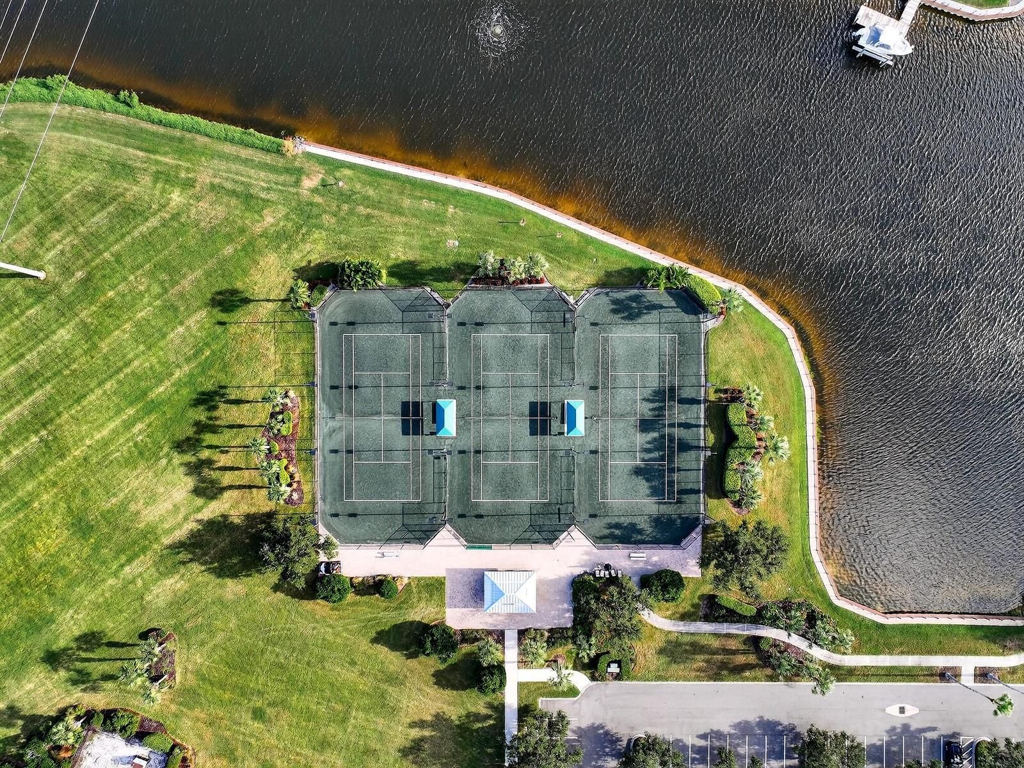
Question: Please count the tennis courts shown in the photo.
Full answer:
In total, there are 3 tennis courts in the scene.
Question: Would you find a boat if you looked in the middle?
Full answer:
No, I see no boat in the middle.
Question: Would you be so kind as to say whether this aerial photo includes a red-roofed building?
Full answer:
No, I can see no red-roofed building in this picture.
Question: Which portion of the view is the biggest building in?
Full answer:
Look in the bottom portion of the view to spot the biggest building.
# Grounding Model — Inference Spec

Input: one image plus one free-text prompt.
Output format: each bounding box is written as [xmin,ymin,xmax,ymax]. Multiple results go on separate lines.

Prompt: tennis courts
[575,289,703,545]
[446,289,575,545]
[317,289,447,545]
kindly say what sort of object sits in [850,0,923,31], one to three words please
pier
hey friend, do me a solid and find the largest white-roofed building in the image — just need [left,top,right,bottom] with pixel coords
[484,568,537,614]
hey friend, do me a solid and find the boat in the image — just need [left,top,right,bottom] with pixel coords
[856,23,915,54]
